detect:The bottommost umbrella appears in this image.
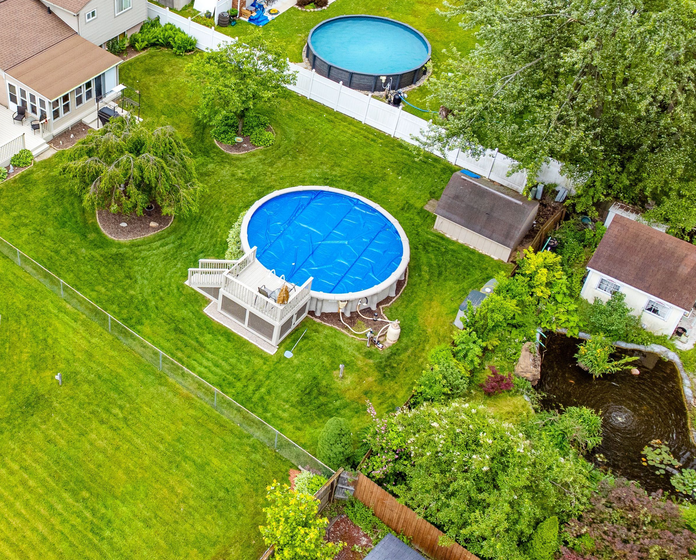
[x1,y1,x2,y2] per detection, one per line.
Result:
[275,282,288,306]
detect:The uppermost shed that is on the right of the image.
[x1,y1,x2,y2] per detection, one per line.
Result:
[432,172,542,260]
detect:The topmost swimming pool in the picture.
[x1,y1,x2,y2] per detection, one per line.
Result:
[306,15,431,92]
